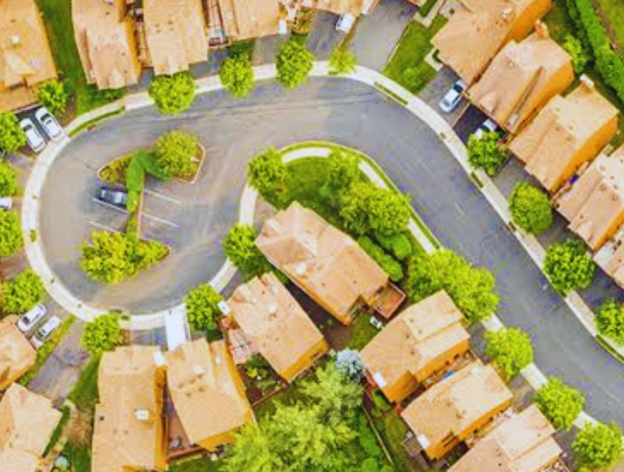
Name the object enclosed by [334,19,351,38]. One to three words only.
car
